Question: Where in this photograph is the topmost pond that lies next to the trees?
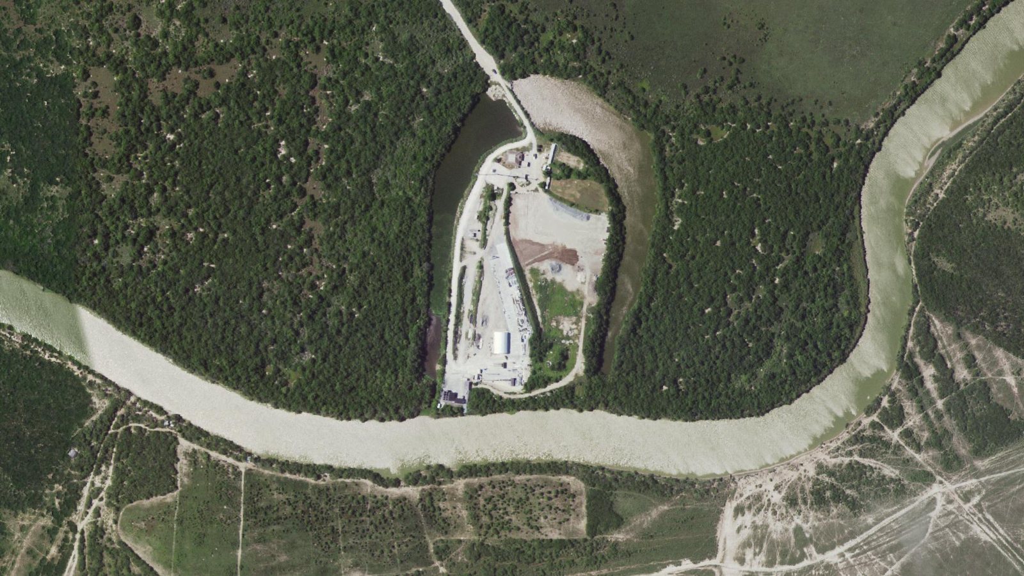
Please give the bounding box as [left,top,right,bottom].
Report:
[432,95,521,313]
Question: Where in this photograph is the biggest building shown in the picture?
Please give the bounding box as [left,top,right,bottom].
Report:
[493,332,509,354]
